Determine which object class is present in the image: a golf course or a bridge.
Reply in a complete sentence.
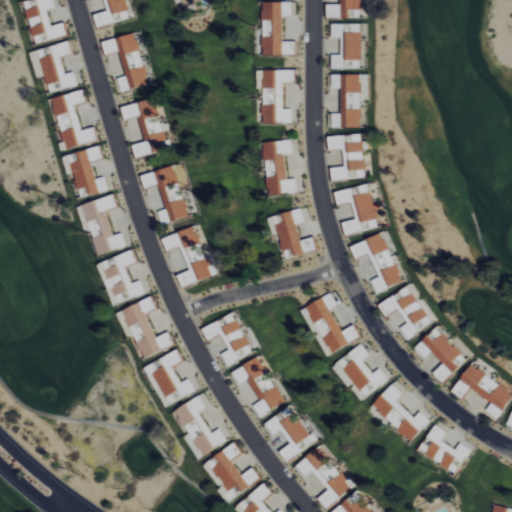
There is a golf course in the scene.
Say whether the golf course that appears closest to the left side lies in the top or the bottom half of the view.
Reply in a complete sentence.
The golf course that appears closest to the left side sits in the bottom half of the picture.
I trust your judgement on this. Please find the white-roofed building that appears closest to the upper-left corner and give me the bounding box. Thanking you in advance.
[21,0,72,44]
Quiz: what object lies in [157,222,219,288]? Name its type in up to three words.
house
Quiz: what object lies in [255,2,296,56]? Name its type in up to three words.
house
